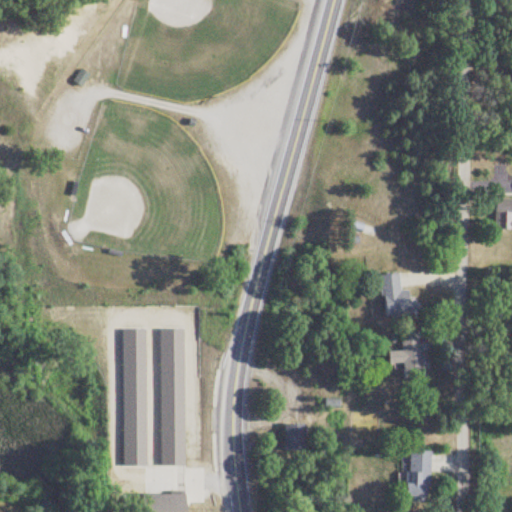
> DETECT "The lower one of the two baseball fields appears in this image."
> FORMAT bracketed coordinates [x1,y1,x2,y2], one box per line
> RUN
[66,98,224,262]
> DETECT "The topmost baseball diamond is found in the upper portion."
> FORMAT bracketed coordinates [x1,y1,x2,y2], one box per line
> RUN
[118,0,300,102]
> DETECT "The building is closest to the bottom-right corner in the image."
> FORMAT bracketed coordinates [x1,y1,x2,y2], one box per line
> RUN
[408,452,434,498]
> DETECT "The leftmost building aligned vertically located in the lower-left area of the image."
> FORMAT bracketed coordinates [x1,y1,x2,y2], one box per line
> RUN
[124,330,147,466]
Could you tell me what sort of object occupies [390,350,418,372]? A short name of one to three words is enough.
house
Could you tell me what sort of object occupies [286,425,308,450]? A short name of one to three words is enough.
house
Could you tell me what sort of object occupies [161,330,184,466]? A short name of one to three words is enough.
building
